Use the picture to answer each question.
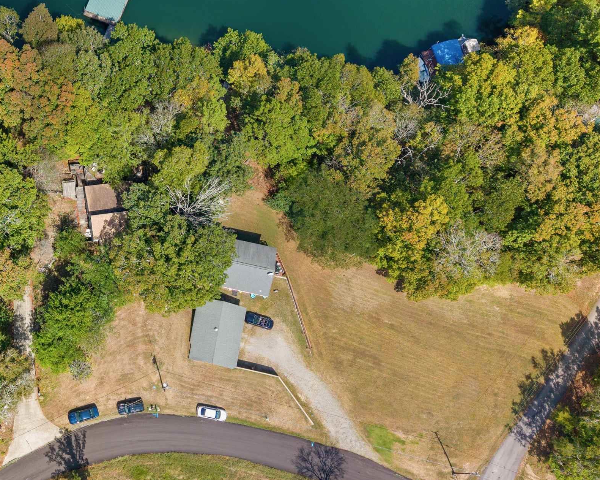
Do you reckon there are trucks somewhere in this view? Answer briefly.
No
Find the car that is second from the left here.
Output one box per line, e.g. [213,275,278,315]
[118,401,146,416]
